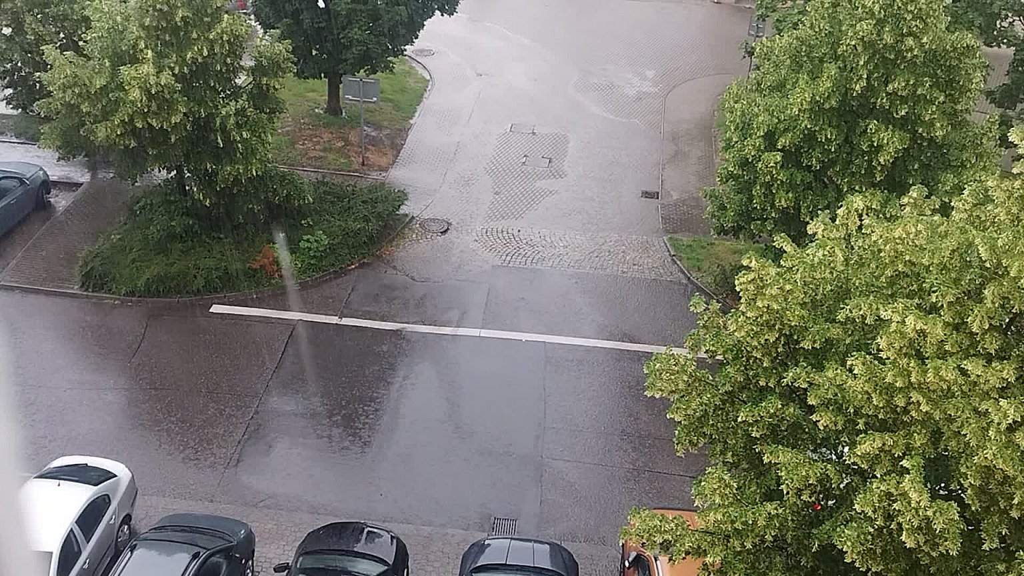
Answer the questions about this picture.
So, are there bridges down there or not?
No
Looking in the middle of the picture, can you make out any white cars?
No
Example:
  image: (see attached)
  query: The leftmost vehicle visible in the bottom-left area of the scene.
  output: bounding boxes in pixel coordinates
[0,451,143,576]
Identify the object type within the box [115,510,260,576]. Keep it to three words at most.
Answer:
car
